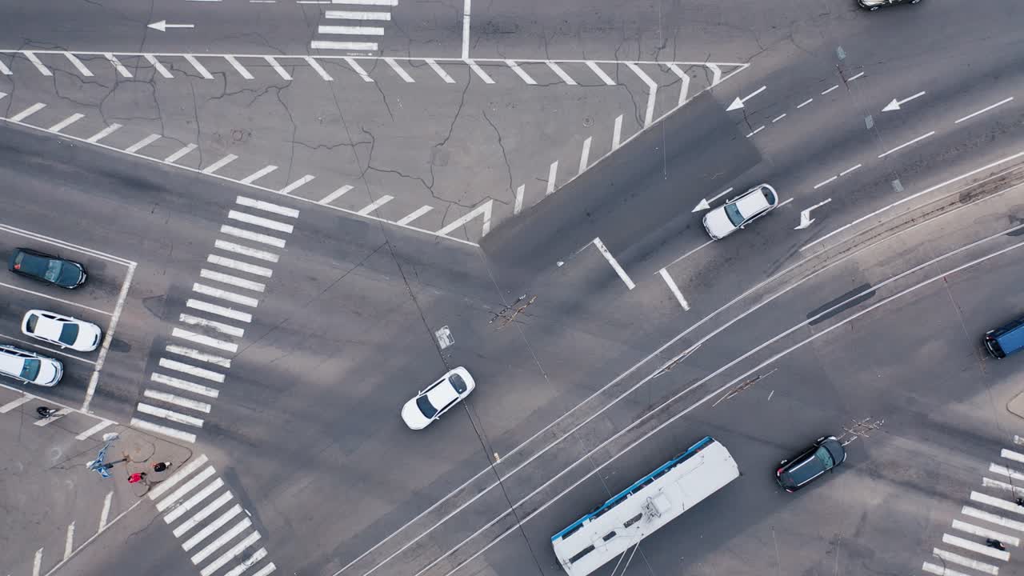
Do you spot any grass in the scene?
No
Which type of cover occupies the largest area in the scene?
paved ground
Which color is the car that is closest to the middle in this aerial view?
white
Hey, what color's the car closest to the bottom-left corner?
white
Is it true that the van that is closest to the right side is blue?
Yes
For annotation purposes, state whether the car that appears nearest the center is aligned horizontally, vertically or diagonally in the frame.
diagonally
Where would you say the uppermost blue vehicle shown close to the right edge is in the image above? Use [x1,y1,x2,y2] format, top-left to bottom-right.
[984,313,1024,360]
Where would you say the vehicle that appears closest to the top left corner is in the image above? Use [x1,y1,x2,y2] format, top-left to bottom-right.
[7,247,88,290]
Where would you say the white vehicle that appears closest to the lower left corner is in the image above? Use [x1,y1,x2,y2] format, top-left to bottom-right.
[0,341,64,386]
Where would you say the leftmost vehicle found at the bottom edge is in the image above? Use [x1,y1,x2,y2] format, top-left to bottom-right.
[549,436,743,576]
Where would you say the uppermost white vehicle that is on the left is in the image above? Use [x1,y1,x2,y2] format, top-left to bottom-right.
[21,309,102,352]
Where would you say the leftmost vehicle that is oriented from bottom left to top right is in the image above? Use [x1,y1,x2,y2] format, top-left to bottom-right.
[402,368,475,429]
